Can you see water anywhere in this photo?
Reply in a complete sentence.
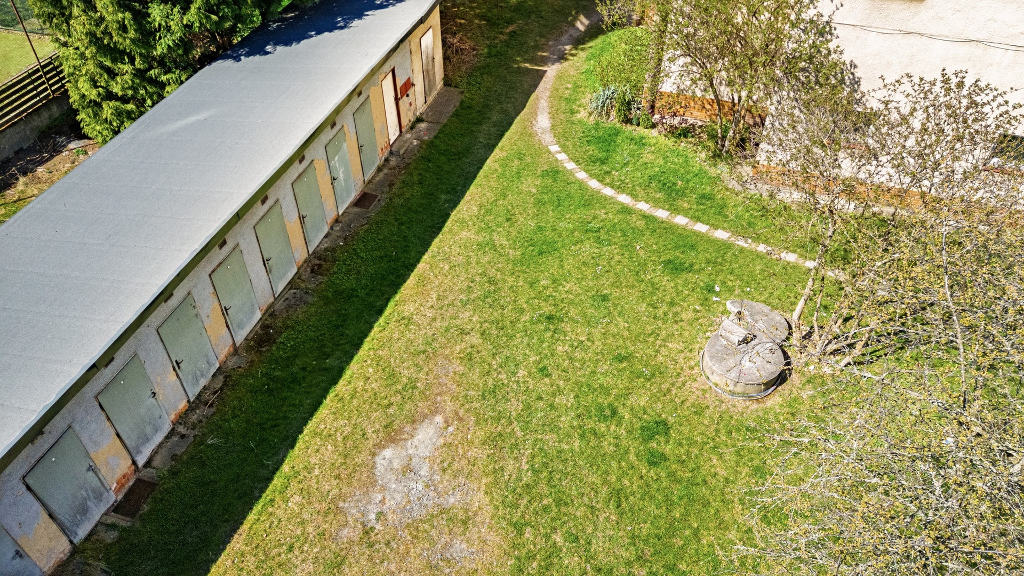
No, the picture contains no water.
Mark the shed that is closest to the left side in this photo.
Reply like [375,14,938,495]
[0,0,445,576]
